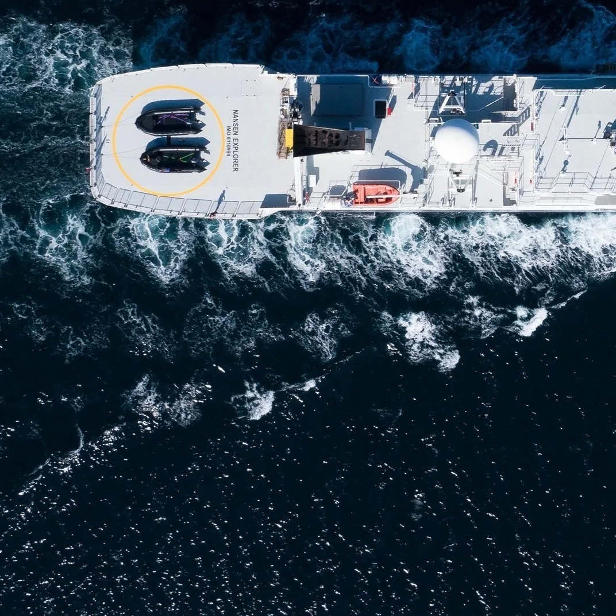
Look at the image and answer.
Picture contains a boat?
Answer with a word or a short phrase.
Yes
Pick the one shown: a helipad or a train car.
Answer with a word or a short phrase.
helipad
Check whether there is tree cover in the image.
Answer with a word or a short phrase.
No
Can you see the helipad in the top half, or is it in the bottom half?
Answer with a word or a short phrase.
top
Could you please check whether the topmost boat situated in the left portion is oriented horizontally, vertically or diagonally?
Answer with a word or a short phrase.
horizontally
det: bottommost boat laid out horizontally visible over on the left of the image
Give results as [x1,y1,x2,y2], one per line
[140,146,210,174]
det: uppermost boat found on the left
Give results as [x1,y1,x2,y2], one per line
[134,109,206,136]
